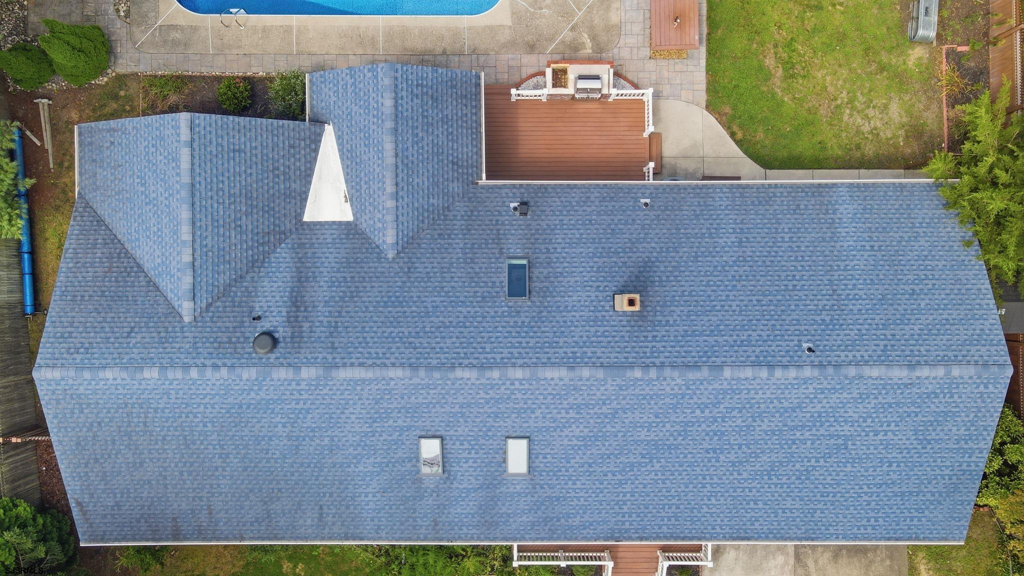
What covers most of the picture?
buildings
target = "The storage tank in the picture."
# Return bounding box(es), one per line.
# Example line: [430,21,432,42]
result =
[908,0,940,51]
